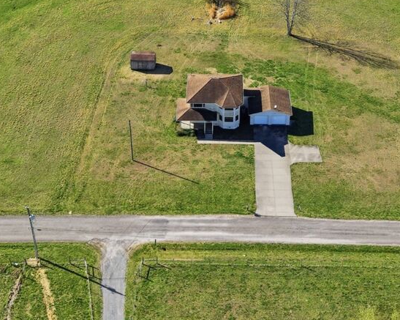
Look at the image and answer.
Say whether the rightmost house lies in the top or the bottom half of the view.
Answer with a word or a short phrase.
top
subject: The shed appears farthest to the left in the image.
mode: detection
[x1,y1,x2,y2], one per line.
[129,50,155,69]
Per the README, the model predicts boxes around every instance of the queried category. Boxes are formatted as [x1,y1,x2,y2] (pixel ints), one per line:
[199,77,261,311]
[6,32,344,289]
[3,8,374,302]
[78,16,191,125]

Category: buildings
[176,74,294,141]
[129,50,155,69]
